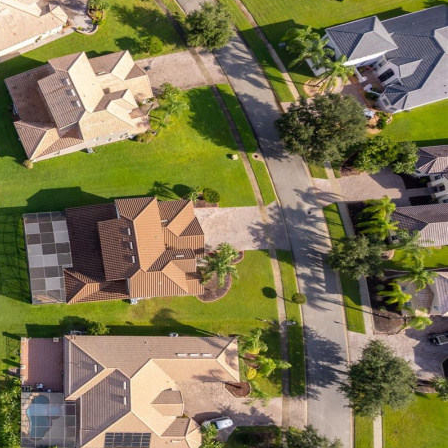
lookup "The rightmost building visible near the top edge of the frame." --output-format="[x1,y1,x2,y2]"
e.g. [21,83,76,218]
[314,5,448,122]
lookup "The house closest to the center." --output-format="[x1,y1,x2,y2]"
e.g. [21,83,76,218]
[64,197,206,304]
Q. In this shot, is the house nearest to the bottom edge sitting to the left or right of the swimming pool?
to the right of it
